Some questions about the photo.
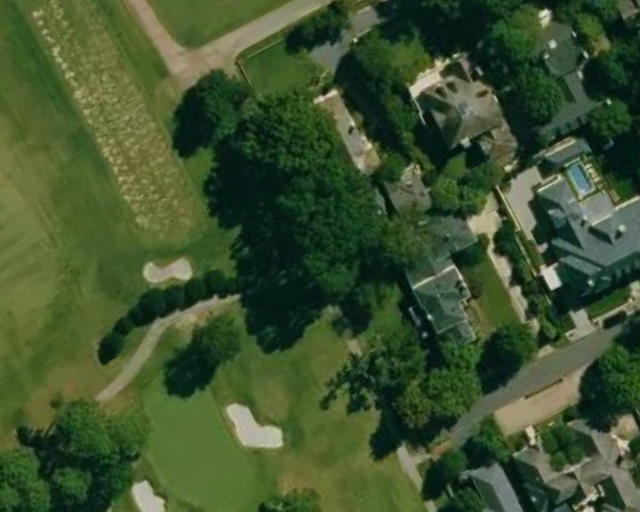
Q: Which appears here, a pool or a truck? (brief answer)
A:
pool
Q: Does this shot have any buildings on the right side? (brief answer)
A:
Yes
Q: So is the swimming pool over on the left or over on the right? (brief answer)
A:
right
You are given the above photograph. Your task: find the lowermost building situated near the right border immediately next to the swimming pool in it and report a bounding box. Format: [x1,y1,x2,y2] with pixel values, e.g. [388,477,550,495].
[538,182,640,297]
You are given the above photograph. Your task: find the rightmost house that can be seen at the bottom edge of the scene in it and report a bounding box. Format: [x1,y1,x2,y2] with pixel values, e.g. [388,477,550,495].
[507,412,640,512]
